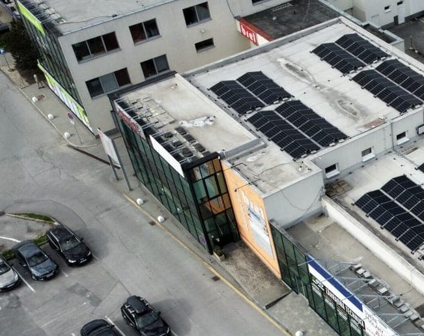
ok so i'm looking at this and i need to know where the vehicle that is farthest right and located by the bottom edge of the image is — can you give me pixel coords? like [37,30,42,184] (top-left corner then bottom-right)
[117,297,168,336]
